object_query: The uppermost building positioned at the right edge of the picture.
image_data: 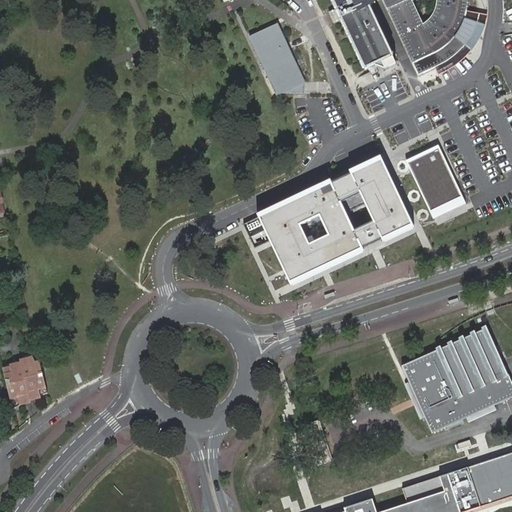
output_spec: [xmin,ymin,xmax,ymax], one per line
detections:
[378,0,487,79]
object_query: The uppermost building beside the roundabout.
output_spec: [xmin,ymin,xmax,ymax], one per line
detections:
[256,154,411,284]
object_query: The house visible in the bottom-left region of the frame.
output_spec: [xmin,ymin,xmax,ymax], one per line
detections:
[2,356,47,404]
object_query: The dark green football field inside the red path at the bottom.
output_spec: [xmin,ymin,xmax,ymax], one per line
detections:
[67,450,188,512]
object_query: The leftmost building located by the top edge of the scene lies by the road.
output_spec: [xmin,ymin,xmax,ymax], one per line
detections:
[250,22,305,96]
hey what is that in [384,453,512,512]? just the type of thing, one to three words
building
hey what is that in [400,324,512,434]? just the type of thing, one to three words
building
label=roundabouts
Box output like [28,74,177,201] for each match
[120,296,283,439]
